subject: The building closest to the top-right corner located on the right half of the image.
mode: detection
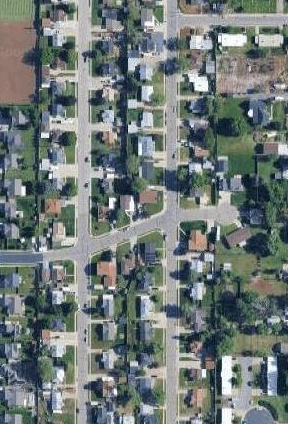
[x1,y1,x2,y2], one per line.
[259,33,283,46]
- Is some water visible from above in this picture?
No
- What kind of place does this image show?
residential area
